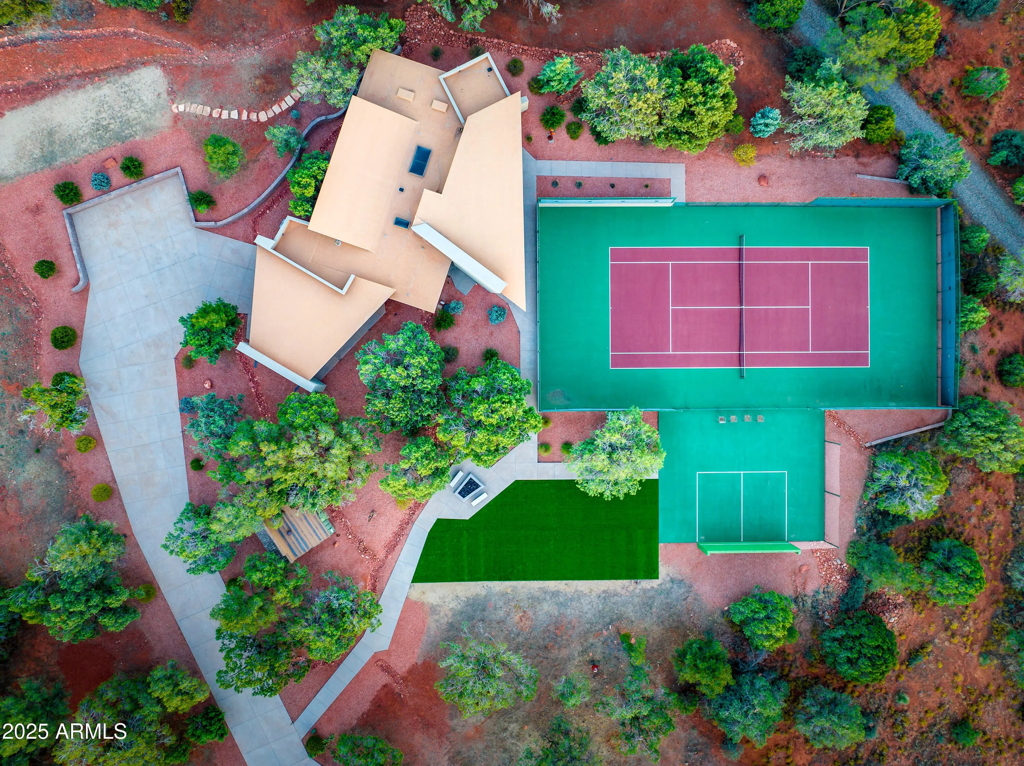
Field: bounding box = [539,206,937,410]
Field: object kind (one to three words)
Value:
tennis court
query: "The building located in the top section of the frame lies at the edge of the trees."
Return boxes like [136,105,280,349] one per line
[237,49,528,392]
